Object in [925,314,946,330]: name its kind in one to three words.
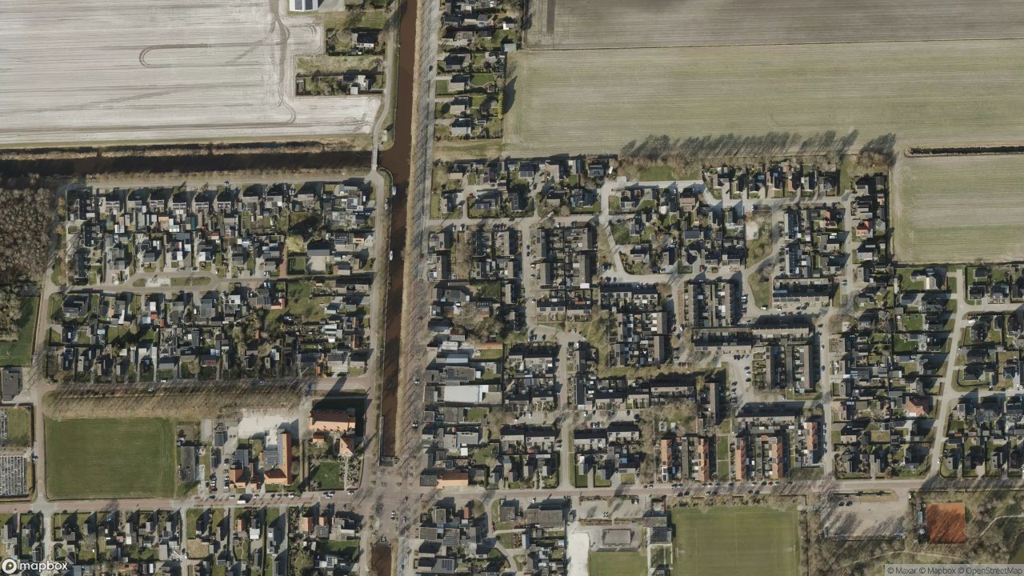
house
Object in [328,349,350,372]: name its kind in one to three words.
house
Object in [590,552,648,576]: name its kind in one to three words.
sports field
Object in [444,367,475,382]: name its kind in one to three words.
building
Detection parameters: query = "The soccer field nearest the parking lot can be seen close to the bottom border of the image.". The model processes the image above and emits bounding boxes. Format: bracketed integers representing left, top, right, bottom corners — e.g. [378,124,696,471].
[665,506,801,576]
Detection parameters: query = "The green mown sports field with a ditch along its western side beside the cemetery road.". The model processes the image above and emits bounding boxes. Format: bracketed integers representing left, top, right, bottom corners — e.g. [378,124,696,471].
[46,418,175,500]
